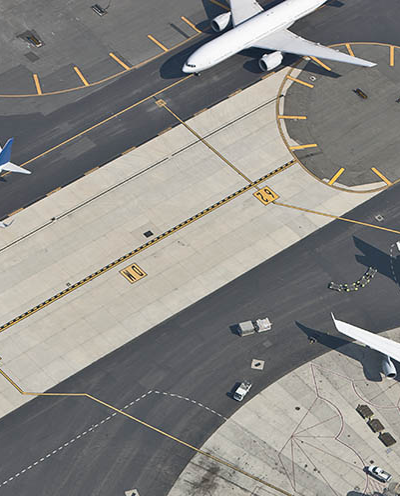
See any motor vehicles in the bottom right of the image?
Yes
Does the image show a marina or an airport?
airport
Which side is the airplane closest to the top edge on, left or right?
right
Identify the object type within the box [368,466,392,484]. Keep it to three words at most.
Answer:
vehicle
